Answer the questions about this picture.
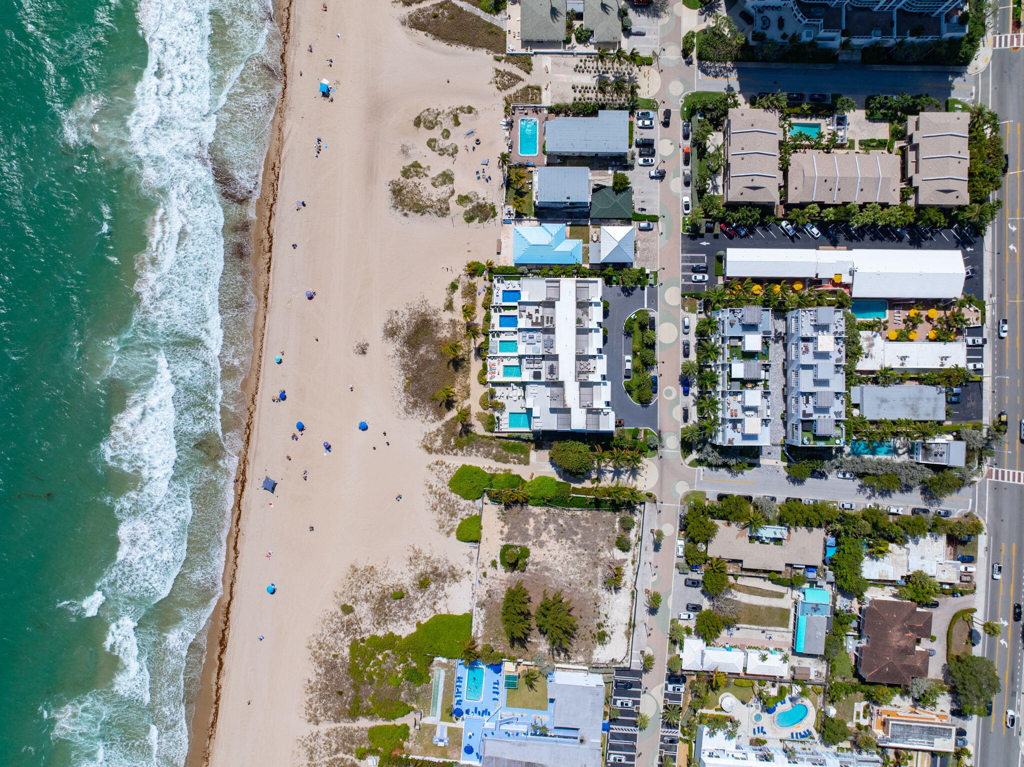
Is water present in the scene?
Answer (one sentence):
Yes, some water is visible.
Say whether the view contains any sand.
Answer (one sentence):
Yes, sand shows up in the scene.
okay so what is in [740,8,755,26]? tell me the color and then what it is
black car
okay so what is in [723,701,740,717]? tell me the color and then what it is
white gazebo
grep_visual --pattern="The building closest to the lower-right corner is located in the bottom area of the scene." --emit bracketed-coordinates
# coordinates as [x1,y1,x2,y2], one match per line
[866,702,956,753]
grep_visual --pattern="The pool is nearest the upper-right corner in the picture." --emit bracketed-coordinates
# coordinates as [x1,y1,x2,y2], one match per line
[787,121,823,140]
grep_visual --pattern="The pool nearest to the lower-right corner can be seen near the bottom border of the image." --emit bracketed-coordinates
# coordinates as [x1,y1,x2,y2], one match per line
[774,702,810,730]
